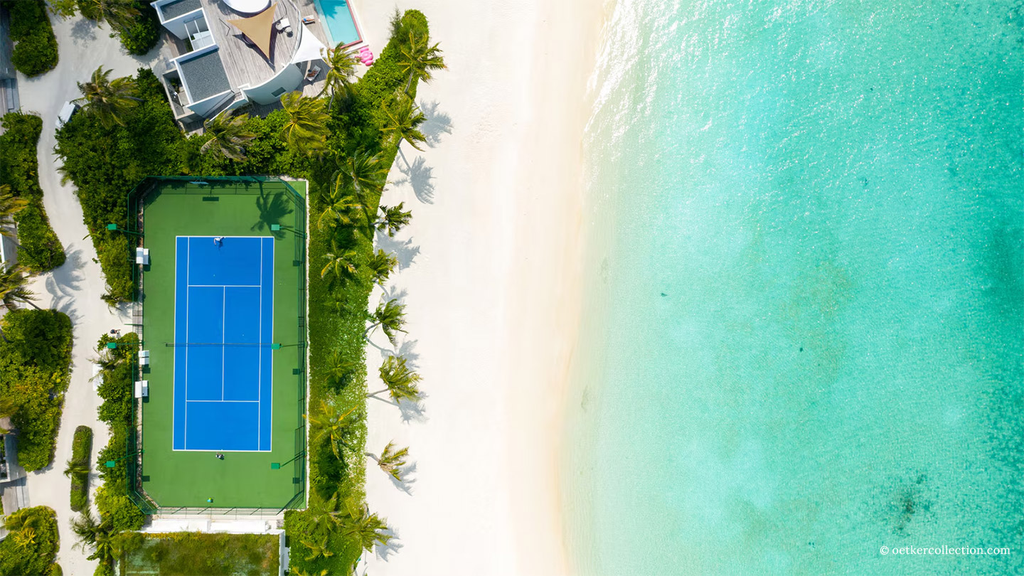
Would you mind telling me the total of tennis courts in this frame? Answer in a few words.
1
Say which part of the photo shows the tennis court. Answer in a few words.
left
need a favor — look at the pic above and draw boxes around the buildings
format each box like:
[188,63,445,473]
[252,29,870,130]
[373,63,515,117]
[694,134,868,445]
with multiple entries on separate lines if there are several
[118,514,291,576]
[148,0,310,127]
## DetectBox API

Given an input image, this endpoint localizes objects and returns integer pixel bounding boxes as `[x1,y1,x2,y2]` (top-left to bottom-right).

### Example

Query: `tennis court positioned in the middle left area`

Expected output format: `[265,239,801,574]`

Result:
[143,181,306,507]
